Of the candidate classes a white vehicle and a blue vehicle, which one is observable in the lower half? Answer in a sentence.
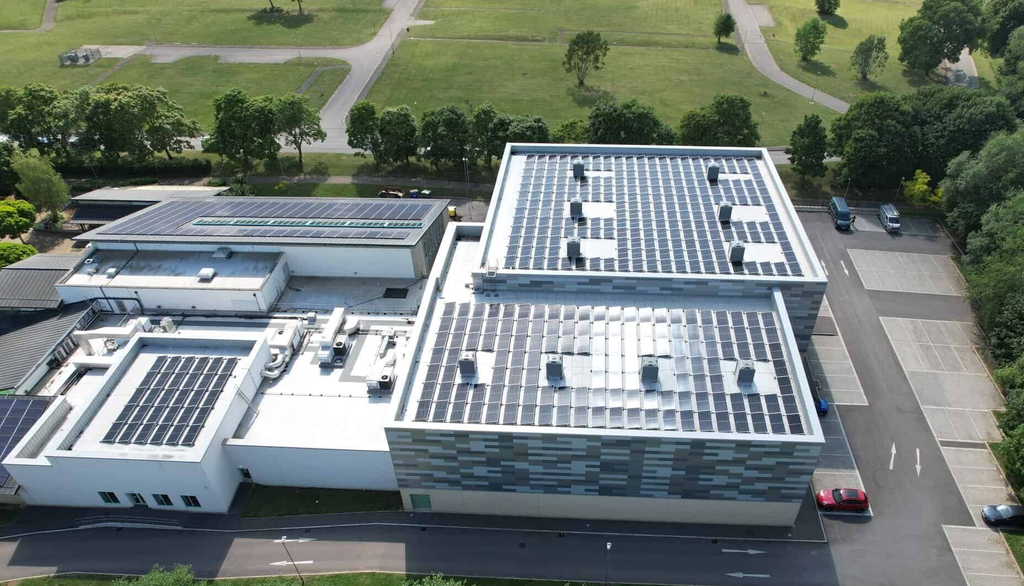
You can see a blue vehicle in the lower half.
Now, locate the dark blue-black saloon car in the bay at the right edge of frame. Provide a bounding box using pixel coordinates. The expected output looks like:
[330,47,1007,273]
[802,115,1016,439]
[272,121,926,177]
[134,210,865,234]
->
[987,503,1024,527]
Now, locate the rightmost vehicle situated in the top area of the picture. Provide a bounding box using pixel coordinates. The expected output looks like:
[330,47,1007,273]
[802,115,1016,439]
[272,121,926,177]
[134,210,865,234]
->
[876,207,903,235]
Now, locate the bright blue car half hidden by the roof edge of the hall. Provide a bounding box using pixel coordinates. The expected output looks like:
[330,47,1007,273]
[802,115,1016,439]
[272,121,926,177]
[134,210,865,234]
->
[814,398,832,415]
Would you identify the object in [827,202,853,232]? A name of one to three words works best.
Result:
vehicle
